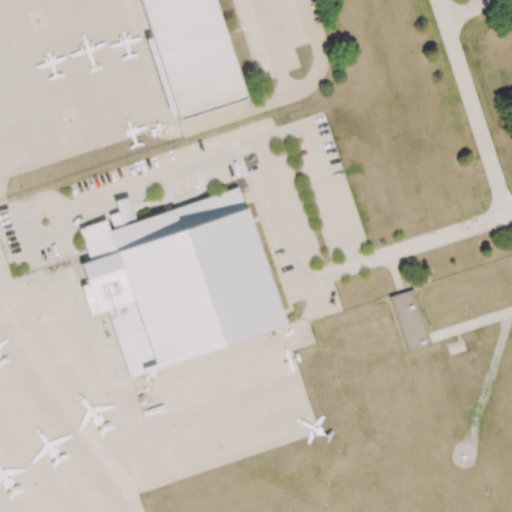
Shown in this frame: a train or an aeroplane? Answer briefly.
aeroplane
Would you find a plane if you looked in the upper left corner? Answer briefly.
Yes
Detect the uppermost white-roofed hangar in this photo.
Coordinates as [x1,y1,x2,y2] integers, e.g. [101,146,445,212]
[143,0,250,120]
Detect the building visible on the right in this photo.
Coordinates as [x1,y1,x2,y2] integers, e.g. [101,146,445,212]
[390,290,431,352]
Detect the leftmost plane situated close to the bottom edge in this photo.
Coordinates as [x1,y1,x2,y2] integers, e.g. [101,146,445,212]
[0,468,26,501]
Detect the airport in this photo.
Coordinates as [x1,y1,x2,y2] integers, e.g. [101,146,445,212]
[0,0,316,512]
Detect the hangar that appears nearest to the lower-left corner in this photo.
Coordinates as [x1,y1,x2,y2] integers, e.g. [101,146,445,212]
[80,186,289,378]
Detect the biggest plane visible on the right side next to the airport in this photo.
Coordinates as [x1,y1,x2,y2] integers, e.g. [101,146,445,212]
[296,416,335,446]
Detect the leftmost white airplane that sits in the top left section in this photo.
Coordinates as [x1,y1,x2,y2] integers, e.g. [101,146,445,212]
[36,50,67,78]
